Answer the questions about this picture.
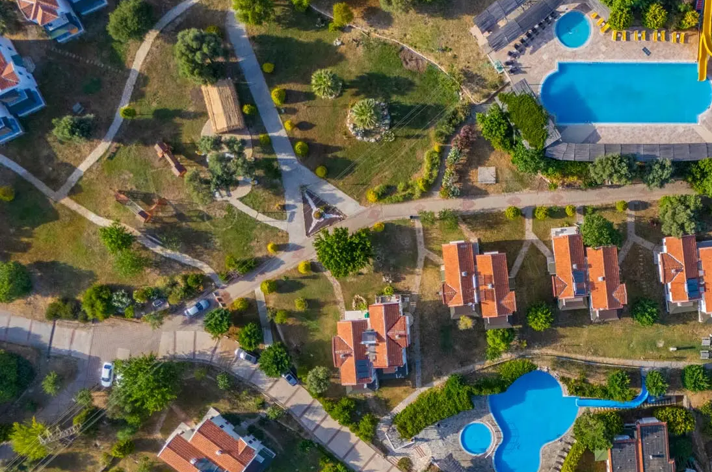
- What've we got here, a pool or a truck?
pool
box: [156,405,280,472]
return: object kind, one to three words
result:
house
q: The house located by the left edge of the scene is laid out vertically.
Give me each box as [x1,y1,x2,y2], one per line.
[0,30,50,139]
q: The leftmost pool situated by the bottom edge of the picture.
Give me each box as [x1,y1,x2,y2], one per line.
[459,421,494,456]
